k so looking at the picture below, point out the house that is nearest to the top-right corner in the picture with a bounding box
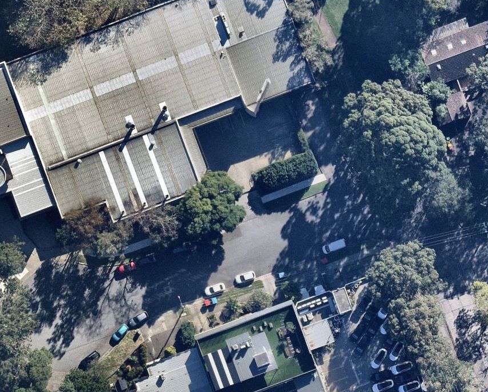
[420,17,488,81]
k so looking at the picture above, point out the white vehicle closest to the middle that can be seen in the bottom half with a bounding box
[234,272,255,285]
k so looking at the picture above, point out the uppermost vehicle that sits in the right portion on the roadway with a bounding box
[322,239,347,255]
